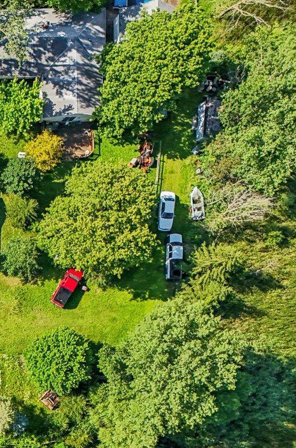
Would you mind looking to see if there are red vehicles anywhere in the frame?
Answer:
Yes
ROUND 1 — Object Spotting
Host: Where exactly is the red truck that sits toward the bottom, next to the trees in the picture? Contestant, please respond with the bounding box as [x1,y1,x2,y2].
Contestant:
[49,271,80,310]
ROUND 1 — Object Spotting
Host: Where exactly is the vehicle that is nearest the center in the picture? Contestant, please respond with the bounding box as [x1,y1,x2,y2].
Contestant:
[154,192,175,231]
